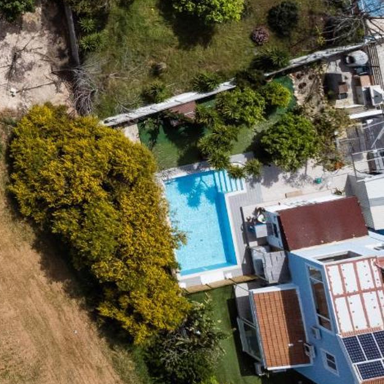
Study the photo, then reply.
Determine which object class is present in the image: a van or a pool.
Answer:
pool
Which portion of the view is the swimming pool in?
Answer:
center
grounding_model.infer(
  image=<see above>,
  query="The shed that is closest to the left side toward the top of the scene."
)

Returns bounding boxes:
[160,100,196,126]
